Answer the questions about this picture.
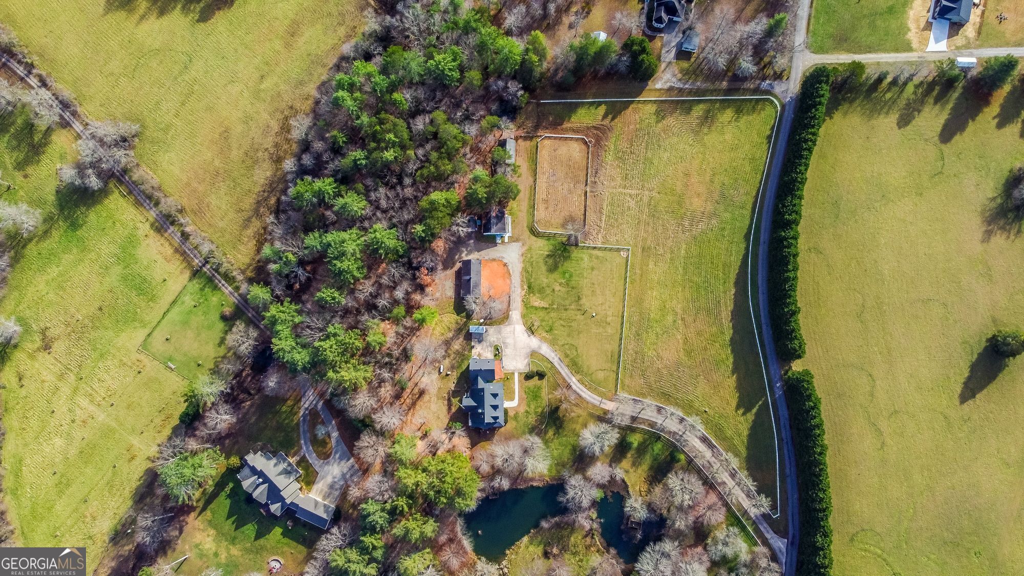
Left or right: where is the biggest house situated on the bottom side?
left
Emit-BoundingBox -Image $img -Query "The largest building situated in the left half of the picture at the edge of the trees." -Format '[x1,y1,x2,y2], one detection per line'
[235,447,336,529]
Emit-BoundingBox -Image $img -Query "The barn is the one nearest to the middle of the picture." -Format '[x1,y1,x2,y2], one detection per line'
[461,259,482,297]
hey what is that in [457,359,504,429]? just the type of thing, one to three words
house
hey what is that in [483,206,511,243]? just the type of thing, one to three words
house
